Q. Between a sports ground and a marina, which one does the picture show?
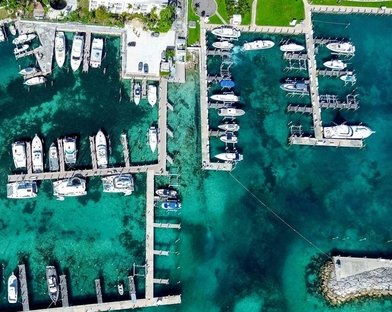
marina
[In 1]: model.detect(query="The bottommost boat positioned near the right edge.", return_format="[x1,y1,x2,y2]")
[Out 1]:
[321,125,377,139]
